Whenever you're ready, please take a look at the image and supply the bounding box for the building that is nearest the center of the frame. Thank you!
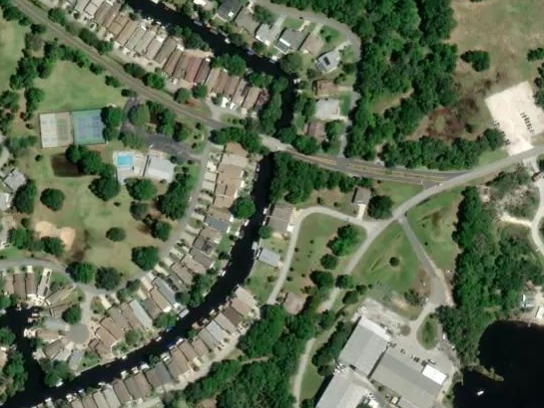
[266,203,289,233]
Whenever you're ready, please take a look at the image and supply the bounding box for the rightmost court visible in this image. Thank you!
[71,109,104,145]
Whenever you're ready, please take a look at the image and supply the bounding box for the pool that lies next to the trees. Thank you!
[116,153,133,166]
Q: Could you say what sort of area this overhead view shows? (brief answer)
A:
residential area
